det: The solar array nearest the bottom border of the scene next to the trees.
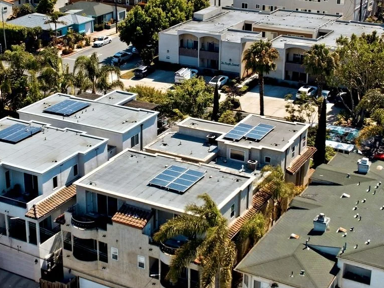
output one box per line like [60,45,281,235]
[147,162,205,193]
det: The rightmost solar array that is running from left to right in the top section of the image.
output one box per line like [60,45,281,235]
[42,100,90,117]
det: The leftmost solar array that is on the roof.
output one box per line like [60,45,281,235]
[0,123,41,146]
